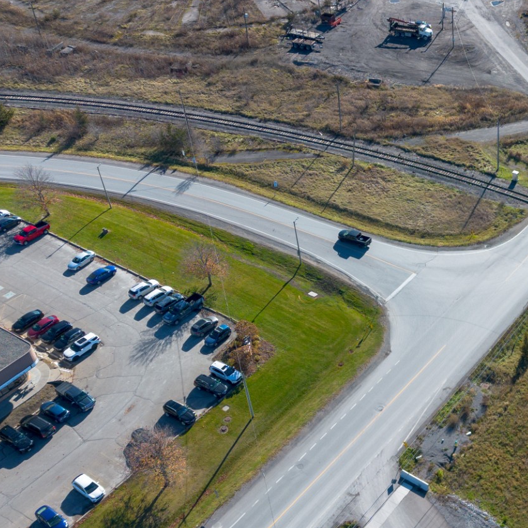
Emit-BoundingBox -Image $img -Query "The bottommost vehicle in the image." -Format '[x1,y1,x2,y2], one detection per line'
[29,501,71,528]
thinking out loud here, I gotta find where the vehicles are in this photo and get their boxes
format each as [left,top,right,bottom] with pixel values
[67,469,107,507]
[139,284,179,309]
[189,368,231,397]
[0,207,14,217]
[60,328,103,362]
[185,315,225,338]
[15,411,58,441]
[35,314,78,345]
[0,214,25,232]
[206,355,244,387]
[158,397,199,427]
[388,18,431,39]
[52,377,97,411]
[151,292,187,316]
[29,501,71,528]
[35,400,74,425]
[125,278,164,302]
[25,314,60,341]
[84,265,120,286]
[50,323,87,354]
[161,293,206,324]
[202,322,237,348]
[8,308,50,334]
[65,250,99,272]
[11,222,53,246]
[335,231,375,250]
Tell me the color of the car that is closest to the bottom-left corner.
blue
